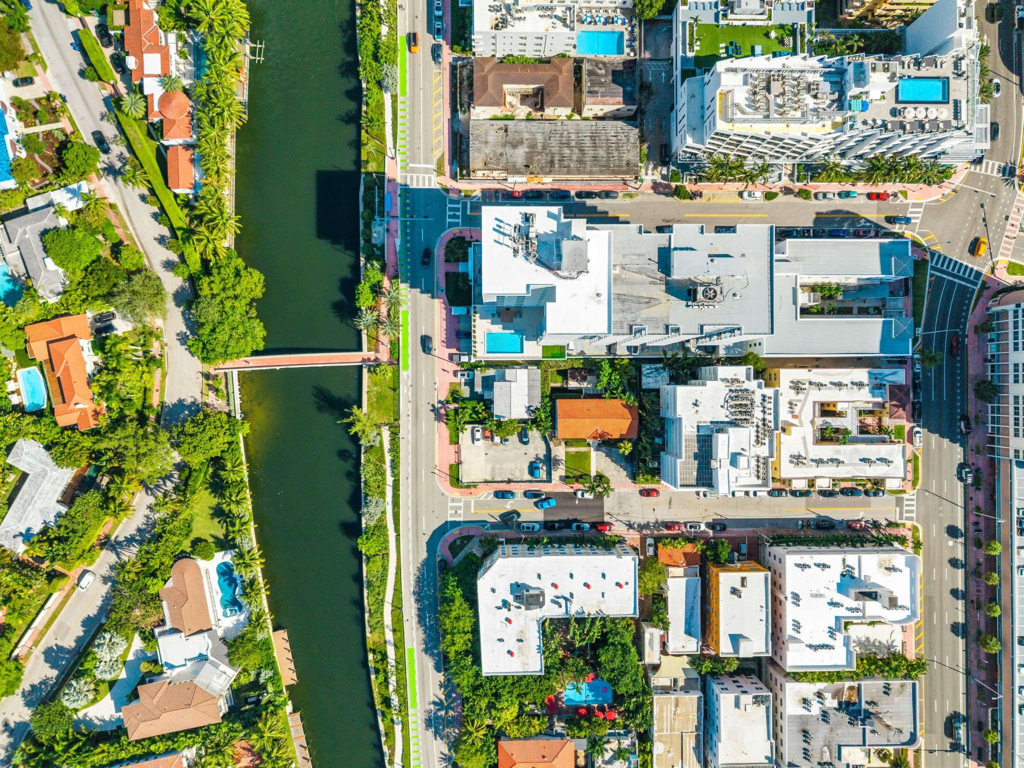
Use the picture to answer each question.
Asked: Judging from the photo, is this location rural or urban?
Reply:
urban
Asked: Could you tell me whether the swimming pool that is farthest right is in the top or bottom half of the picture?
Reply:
top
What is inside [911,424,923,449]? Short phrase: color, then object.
white vehicle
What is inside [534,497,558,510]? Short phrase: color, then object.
blue vehicle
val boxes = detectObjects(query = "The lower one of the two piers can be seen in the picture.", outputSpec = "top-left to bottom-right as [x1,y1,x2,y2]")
[288,707,313,768]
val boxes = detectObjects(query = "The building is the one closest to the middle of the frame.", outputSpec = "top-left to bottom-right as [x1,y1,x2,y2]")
[474,367,541,419]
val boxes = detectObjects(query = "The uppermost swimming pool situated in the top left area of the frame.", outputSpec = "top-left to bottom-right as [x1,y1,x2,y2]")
[192,41,208,82]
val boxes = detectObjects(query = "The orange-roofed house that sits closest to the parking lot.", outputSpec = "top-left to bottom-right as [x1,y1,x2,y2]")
[556,399,639,444]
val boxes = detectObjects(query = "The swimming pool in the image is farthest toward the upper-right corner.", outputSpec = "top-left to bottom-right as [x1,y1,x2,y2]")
[897,78,950,103]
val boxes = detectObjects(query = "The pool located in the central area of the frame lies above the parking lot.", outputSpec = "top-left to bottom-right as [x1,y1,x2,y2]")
[485,331,525,355]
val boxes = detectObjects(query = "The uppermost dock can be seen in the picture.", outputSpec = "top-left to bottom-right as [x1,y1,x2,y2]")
[273,626,301,685]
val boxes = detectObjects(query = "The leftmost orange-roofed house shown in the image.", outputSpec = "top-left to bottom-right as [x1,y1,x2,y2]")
[28,314,112,431]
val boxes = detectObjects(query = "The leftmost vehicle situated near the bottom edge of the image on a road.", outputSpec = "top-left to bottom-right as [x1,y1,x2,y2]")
[949,716,961,738]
